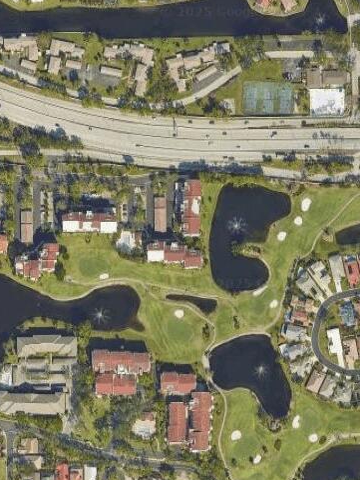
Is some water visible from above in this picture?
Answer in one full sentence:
Yes, some water is visible.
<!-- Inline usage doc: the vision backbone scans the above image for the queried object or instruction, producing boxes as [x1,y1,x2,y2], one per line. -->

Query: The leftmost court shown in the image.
[244,82,260,114]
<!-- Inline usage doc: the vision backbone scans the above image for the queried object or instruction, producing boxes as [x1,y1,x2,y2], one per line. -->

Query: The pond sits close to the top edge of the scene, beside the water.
[0,0,348,39]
